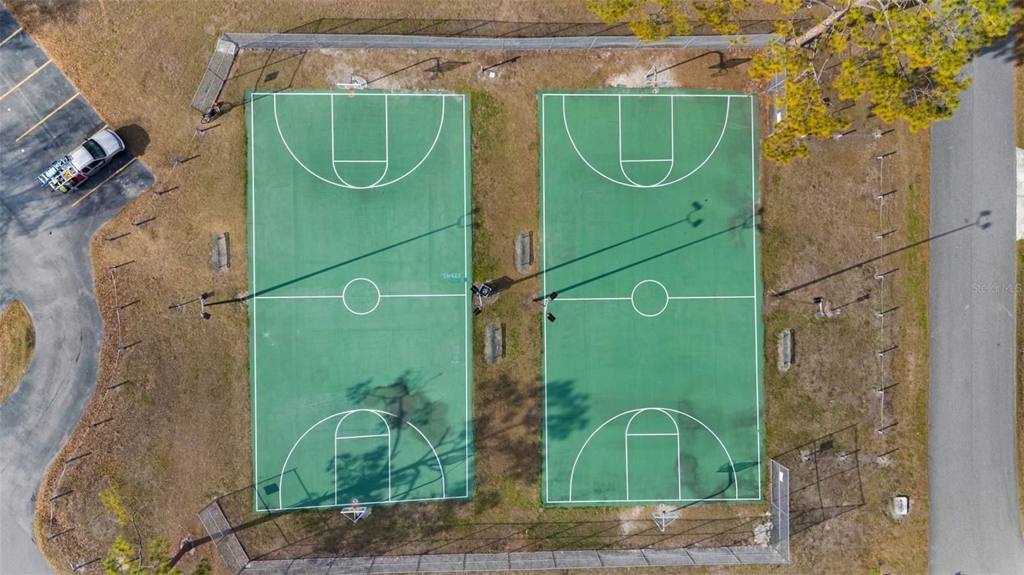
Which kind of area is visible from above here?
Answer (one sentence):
The area seen from above is a sports ground.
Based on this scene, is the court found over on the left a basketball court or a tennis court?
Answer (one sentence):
It looks like the court found over on the left is a basketball court.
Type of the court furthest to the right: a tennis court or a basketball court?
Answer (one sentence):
Looking closely, the court furthest to the right is a basketball court.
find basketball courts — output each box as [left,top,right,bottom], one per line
[538,89,765,508]
[246,90,473,513]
